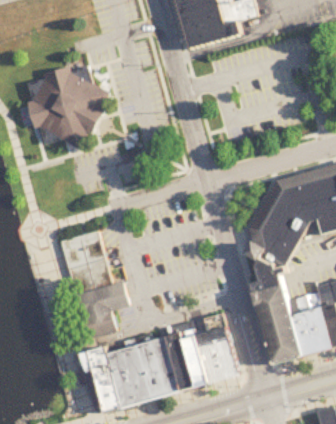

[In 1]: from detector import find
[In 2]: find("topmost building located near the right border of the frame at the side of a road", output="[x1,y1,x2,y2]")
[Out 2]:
[250,163,336,270]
